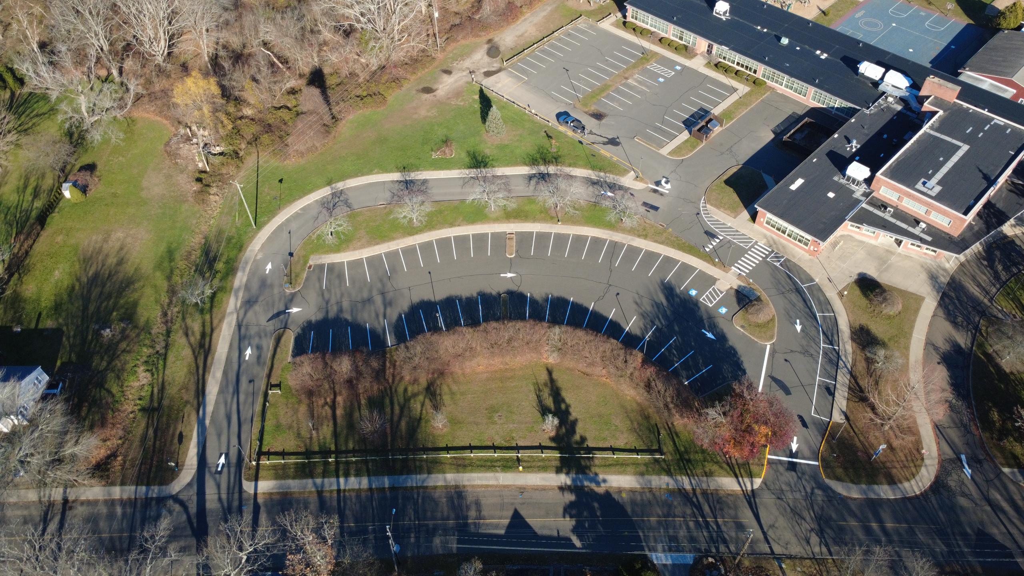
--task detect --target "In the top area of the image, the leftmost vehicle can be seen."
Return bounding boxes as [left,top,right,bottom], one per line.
[555,115,588,134]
